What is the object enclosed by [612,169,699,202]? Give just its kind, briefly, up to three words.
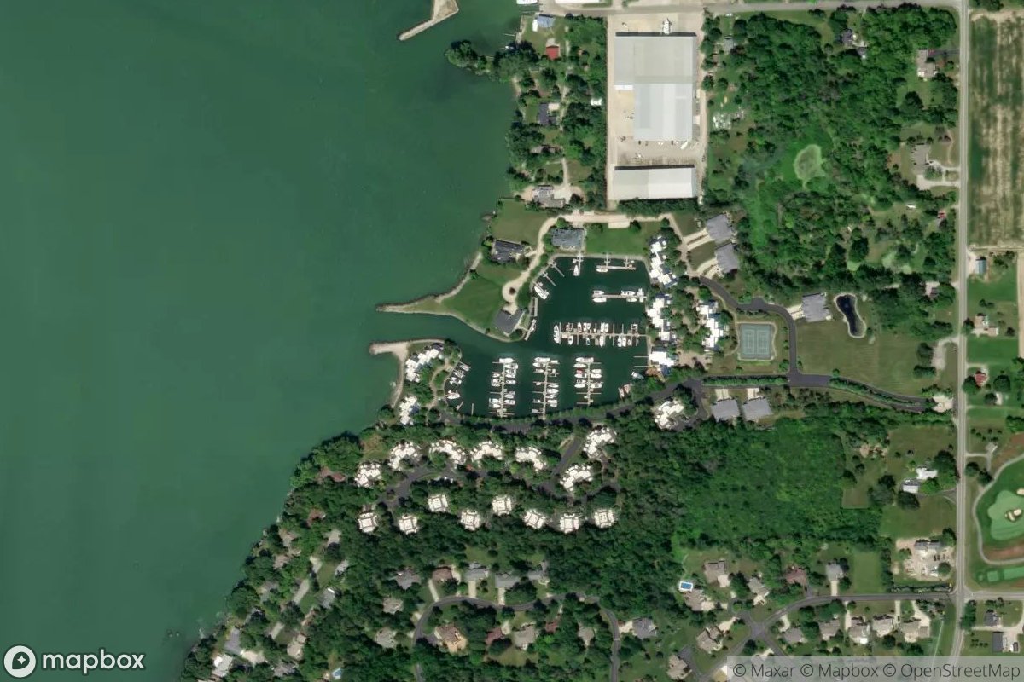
building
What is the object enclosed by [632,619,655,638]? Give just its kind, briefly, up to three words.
house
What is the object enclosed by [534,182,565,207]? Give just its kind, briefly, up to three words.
house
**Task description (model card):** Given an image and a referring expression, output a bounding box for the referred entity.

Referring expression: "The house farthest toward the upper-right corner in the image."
[917,50,937,76]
